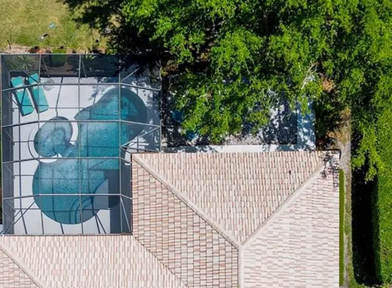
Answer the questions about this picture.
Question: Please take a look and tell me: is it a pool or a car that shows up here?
pool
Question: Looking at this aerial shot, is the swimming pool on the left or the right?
left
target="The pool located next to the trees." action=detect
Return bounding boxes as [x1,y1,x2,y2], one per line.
[27,84,152,228]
